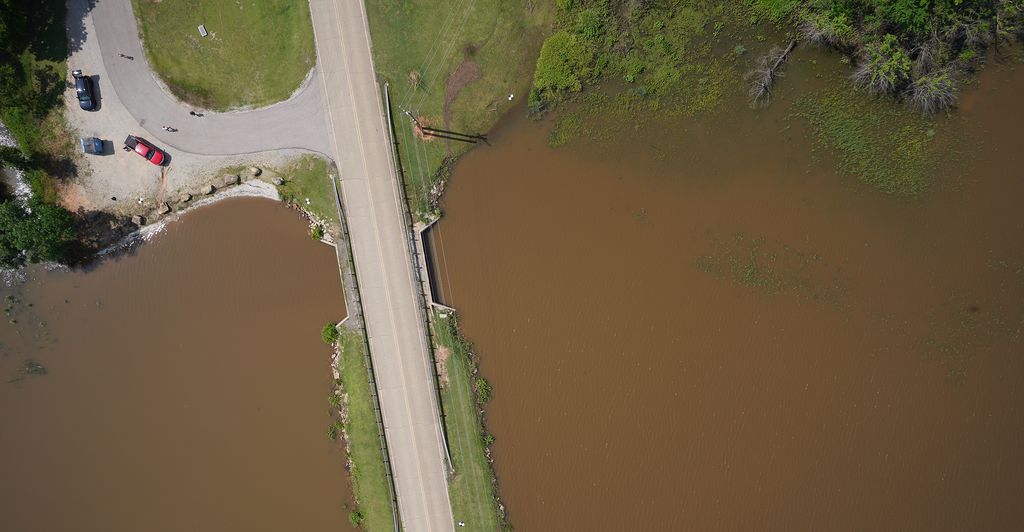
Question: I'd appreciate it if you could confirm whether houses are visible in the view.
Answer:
No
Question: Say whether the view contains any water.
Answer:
Yes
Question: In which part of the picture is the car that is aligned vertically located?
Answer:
top left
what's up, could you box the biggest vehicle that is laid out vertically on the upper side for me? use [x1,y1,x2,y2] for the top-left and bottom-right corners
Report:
[72,66,95,111]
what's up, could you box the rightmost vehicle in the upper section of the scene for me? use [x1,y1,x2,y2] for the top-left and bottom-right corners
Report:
[124,135,167,166]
